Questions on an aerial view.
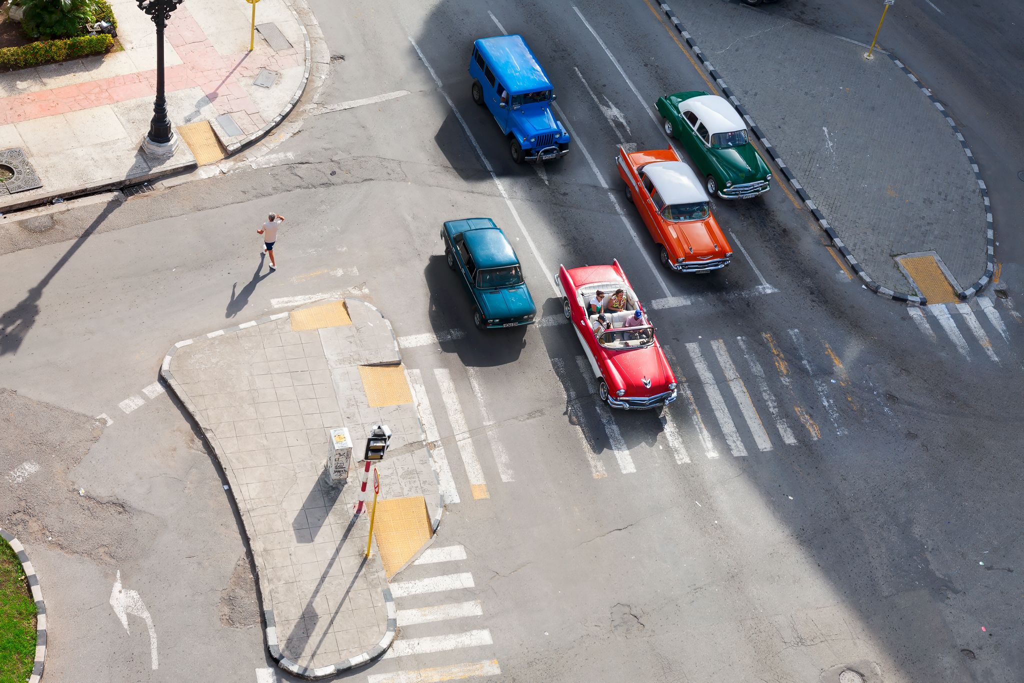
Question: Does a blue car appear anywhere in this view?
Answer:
Yes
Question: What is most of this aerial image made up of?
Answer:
paved ground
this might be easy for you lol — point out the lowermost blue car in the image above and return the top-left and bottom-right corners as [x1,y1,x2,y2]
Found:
[437,219,540,332]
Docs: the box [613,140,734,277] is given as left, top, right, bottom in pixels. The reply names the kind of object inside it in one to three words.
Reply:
car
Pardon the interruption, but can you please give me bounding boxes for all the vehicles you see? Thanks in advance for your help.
[613,140,734,277]
[657,96,774,201]
[556,256,681,414]
[437,219,540,332]
[470,36,575,163]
